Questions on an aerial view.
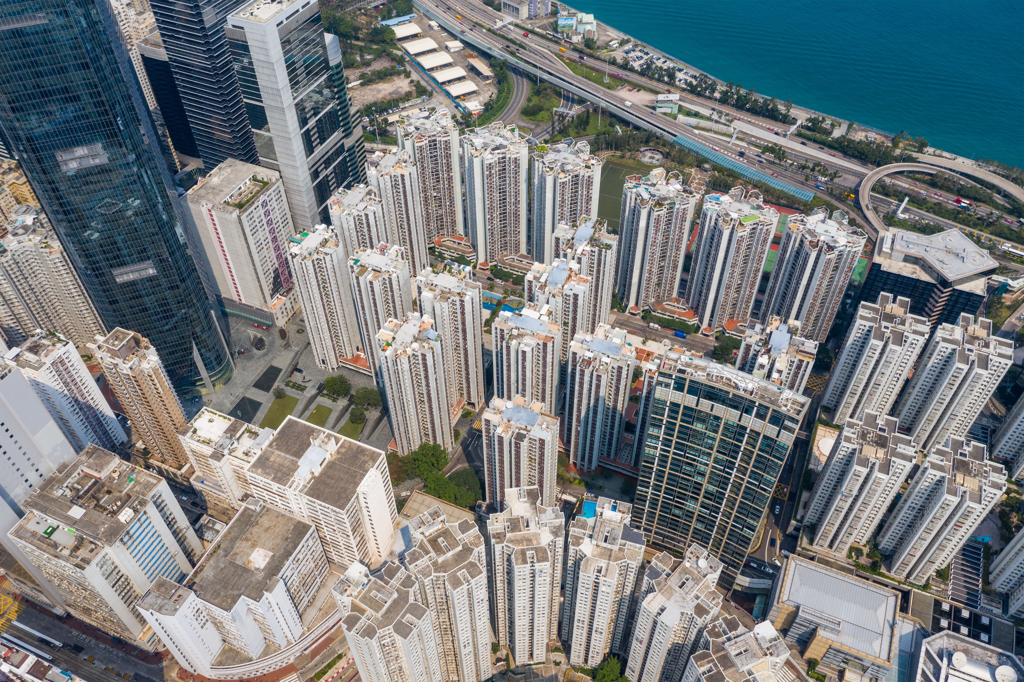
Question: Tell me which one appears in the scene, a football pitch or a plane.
football pitch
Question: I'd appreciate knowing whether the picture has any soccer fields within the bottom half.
No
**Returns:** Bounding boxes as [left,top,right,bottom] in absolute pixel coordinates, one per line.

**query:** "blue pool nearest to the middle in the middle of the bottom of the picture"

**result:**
[575,497,594,523]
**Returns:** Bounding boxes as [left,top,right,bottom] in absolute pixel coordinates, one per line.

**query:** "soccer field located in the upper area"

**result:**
[598,157,690,251]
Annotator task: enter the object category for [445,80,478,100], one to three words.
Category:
shed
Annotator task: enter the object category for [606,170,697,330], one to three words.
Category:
building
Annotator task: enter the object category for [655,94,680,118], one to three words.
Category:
building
